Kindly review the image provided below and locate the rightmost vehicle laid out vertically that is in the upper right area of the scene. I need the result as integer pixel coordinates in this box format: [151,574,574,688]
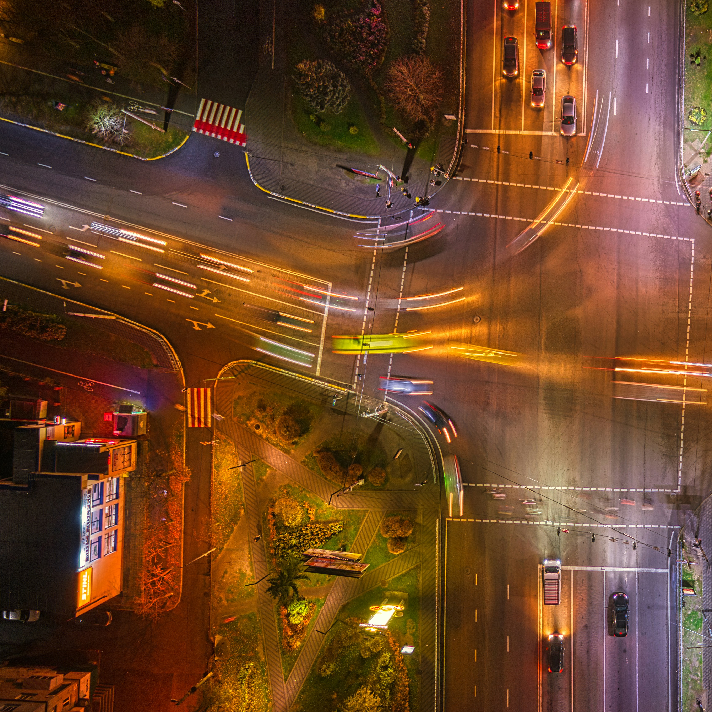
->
[586,106,610,153]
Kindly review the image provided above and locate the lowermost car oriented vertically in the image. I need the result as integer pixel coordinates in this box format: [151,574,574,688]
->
[546,631,566,673]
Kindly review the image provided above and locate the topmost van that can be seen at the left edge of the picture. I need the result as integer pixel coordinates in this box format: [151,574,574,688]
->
[0,192,51,221]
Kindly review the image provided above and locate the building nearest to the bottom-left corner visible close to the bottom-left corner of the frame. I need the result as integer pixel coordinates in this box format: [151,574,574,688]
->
[0,663,85,712]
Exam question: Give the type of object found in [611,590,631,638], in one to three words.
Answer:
car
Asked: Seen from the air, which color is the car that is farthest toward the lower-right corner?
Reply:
black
